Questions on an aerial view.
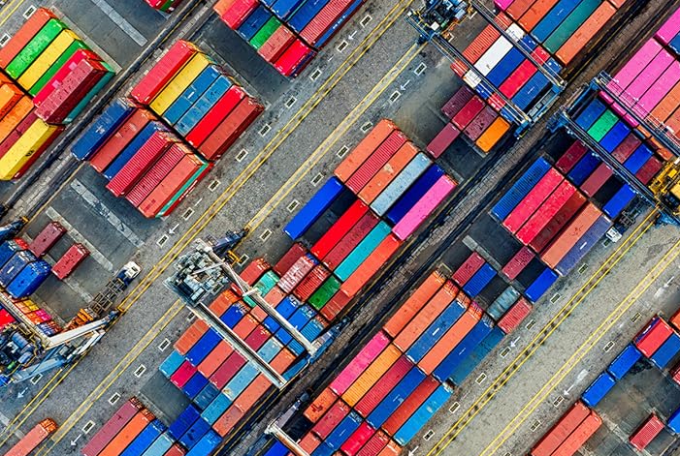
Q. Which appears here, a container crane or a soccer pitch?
container crane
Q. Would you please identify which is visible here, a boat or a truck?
truck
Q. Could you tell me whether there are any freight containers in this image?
Yes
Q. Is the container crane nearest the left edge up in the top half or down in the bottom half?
bottom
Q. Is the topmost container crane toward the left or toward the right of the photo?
right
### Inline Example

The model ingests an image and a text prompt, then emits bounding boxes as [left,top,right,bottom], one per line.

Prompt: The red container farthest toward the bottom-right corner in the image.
[629,412,665,451]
